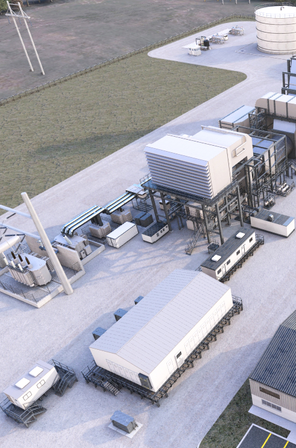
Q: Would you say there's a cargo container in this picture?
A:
Yes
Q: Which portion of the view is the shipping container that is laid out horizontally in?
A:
right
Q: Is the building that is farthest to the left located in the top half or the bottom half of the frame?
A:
bottom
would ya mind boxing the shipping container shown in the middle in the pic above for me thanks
[106,221,138,248]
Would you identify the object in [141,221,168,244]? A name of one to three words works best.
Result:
building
